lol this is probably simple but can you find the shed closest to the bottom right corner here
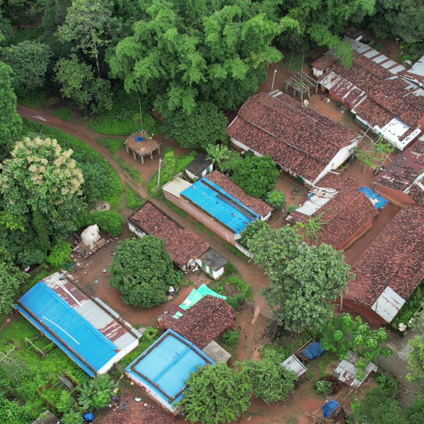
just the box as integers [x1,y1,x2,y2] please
[334,357,375,393]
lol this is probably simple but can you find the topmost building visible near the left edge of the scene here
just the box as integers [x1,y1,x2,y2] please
[15,270,142,380]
